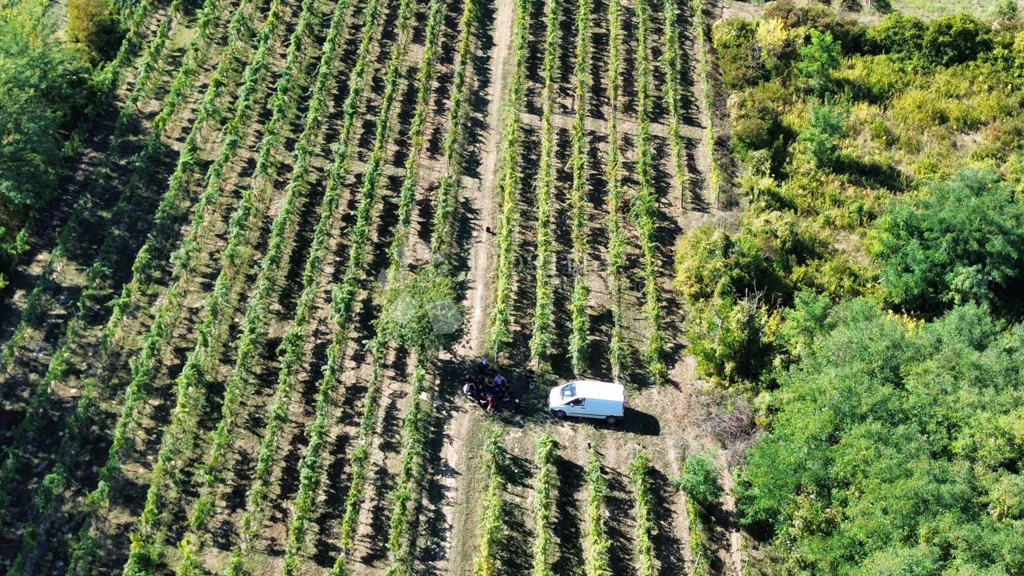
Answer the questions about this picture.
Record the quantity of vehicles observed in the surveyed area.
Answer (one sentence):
The count comes to 1 vehicle.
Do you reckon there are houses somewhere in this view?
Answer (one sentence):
No, I find no house anywhere in the image.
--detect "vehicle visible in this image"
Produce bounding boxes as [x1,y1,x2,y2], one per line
[547,382,627,425]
